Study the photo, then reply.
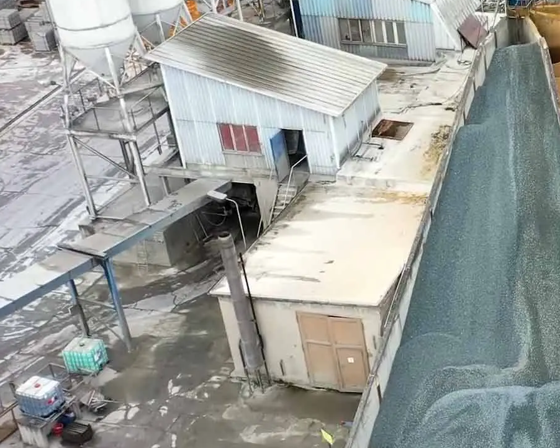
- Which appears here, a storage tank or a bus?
storage tank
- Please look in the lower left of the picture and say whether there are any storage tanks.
Yes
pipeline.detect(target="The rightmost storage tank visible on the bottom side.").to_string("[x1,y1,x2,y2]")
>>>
[59,327,108,377]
